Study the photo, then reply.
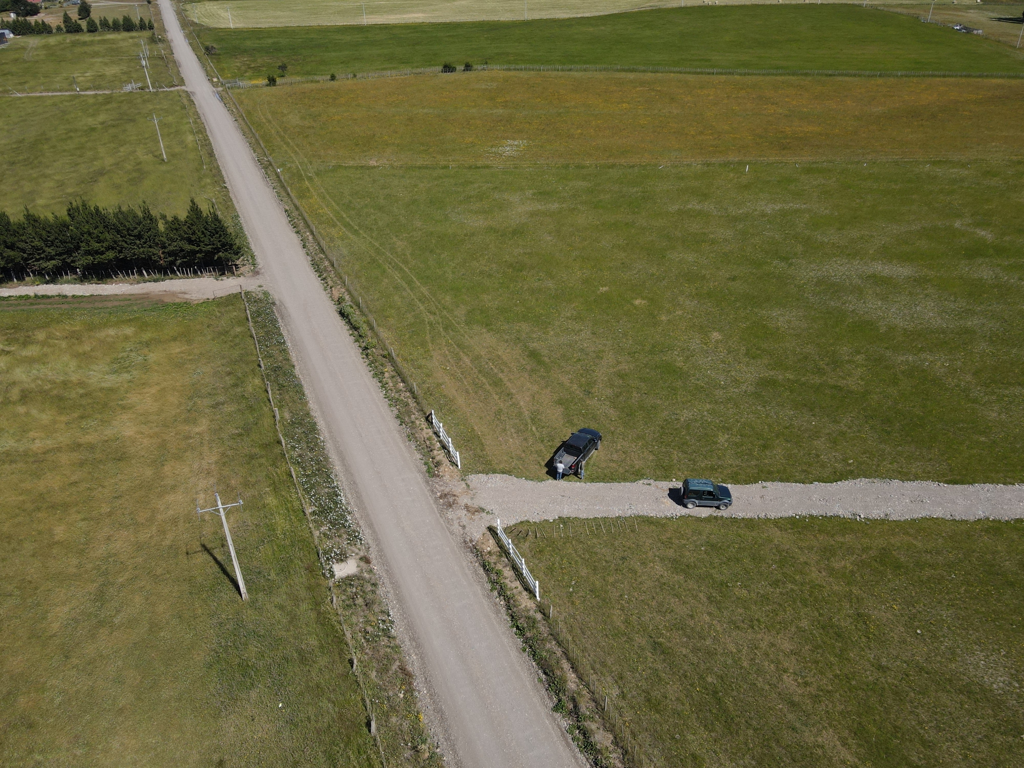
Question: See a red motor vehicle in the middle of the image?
No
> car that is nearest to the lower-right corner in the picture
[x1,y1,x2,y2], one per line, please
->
[680,478,734,510]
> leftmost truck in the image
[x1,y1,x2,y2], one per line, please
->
[553,429,602,472]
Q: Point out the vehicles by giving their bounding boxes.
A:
[680,478,734,510]
[553,429,602,472]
